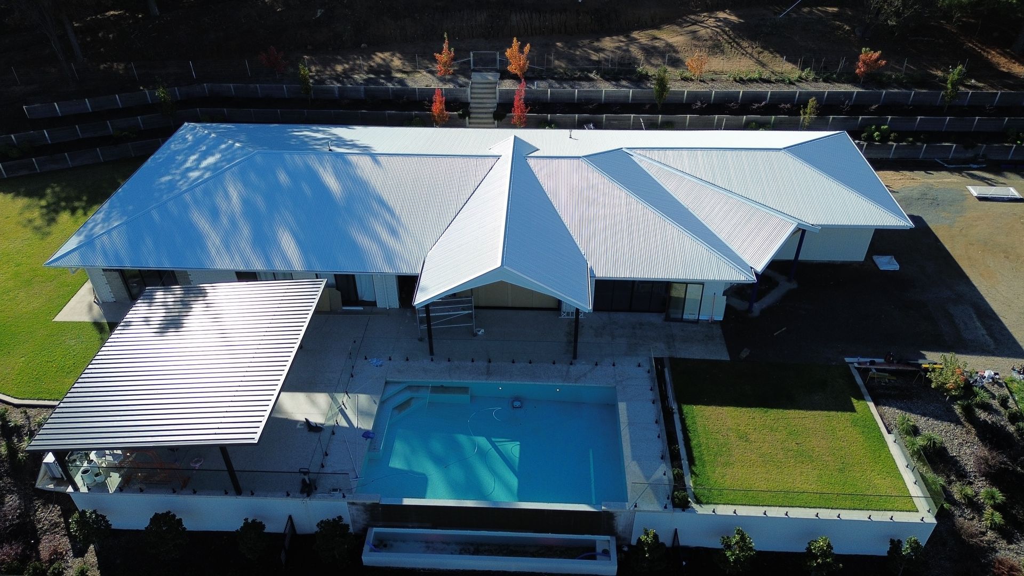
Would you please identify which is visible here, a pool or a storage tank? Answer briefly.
pool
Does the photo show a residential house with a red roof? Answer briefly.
No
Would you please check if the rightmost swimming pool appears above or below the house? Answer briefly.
below it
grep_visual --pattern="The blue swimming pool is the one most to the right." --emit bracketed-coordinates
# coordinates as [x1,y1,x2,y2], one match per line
[355,382,628,516]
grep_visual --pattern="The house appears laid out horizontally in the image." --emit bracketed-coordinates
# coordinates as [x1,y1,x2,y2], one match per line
[41,123,918,359]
